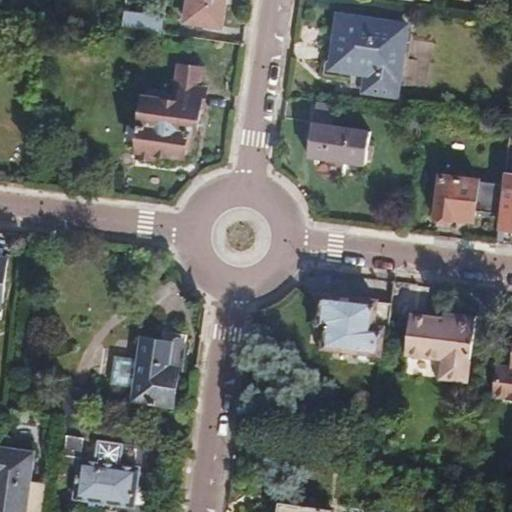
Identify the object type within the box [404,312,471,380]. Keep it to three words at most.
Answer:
house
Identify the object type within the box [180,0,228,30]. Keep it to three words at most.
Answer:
house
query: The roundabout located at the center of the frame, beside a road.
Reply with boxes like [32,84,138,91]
[172,168,310,304]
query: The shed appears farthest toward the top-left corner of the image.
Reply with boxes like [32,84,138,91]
[122,11,164,32]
